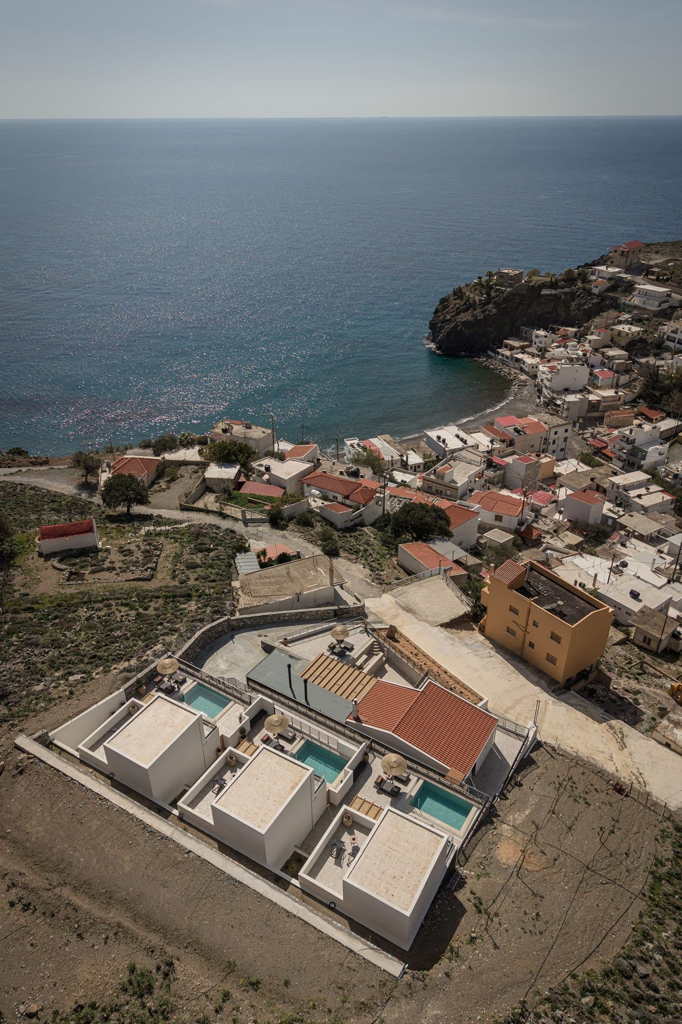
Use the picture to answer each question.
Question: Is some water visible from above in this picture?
Yes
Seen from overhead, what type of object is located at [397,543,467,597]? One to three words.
house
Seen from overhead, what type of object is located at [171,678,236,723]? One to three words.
swimming pool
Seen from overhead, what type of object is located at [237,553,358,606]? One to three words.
building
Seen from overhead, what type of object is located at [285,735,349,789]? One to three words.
swimming pool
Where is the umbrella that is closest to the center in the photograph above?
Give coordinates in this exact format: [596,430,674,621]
[329,627,349,647]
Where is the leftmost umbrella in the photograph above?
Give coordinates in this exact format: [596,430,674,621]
[154,658,178,682]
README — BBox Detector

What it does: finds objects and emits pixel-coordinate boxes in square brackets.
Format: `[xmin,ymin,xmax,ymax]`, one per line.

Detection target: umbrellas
[154,658,178,682]
[378,754,405,783]
[329,627,349,647]
[264,713,290,740]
